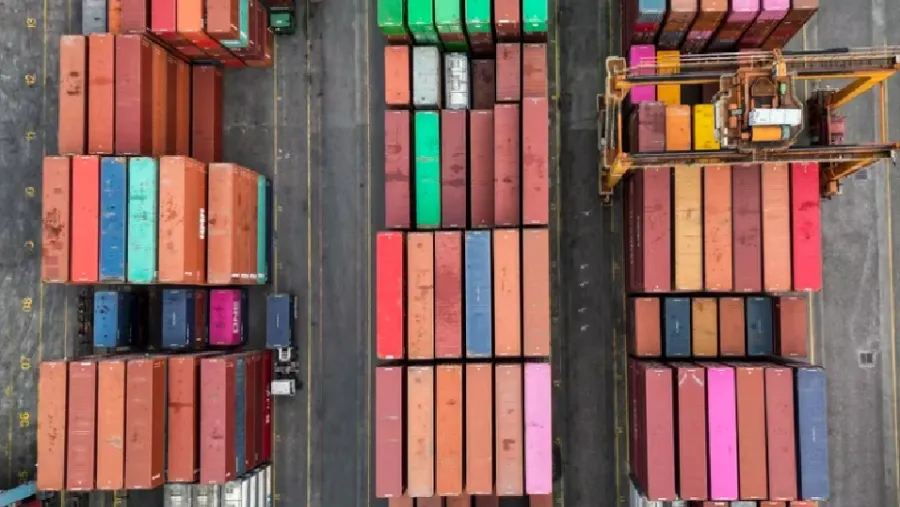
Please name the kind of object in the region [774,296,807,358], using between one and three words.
shipping container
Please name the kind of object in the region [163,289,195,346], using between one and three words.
shipping container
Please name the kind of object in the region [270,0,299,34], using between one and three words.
truck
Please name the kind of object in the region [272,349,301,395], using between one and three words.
truck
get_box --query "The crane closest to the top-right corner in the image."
[587,45,900,209]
